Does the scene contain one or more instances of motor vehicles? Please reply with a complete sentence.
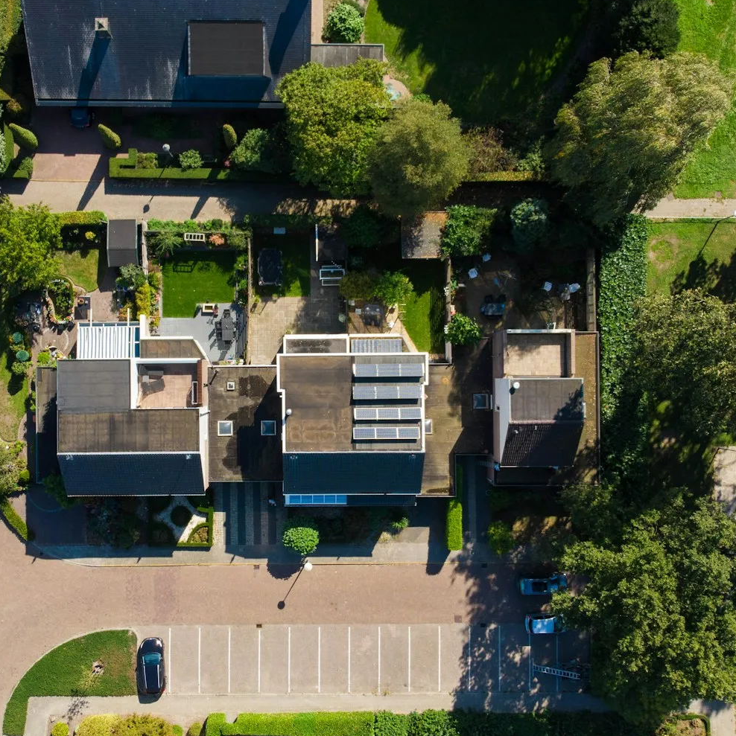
Yes, you can see a motor vehicle in this photo.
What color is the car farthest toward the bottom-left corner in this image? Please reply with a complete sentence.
In this view, the car farthest toward the bottom-left corner is black.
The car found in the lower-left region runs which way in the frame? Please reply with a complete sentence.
From this overhead view, the car found in the lower-left region appears to run from top to bottom.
